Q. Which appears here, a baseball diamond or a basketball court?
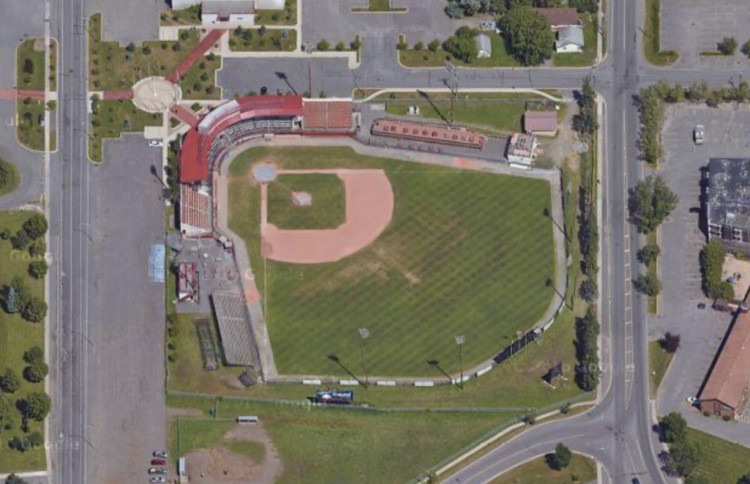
baseball diamond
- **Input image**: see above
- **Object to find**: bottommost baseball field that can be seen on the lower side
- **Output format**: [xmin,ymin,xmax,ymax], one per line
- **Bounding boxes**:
[179,409,521,484]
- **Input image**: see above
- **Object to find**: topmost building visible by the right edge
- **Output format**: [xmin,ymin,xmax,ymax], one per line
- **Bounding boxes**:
[705,158,750,239]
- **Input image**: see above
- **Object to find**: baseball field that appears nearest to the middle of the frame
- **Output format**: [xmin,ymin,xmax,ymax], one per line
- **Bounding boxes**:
[212,136,568,381]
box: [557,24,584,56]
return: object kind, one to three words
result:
house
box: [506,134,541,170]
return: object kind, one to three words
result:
building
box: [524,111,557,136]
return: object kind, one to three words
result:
building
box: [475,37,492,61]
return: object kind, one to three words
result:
shed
